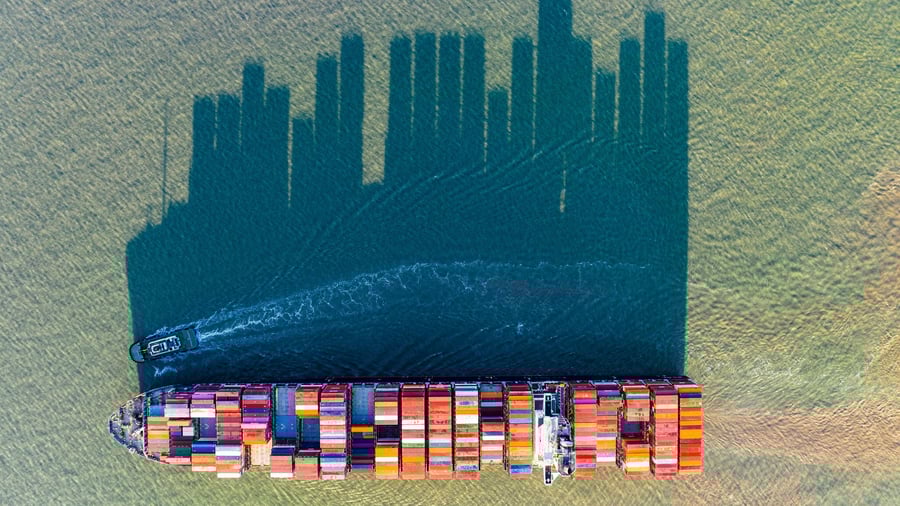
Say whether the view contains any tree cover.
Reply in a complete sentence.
No, tree cover can't be seen anywhere here.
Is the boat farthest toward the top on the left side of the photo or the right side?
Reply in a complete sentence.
The boat farthest toward the top sits on the left side.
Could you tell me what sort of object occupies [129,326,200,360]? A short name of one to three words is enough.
boat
